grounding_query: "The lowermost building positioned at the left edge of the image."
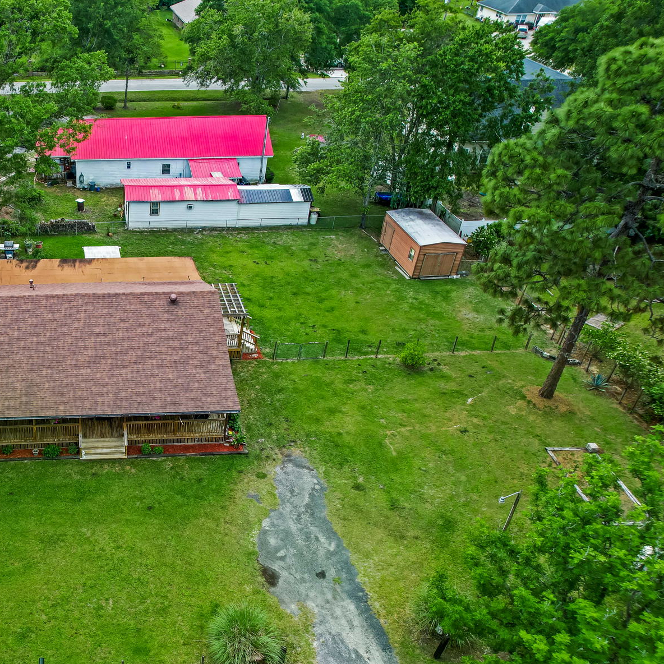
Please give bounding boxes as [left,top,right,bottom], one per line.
[0,256,239,460]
